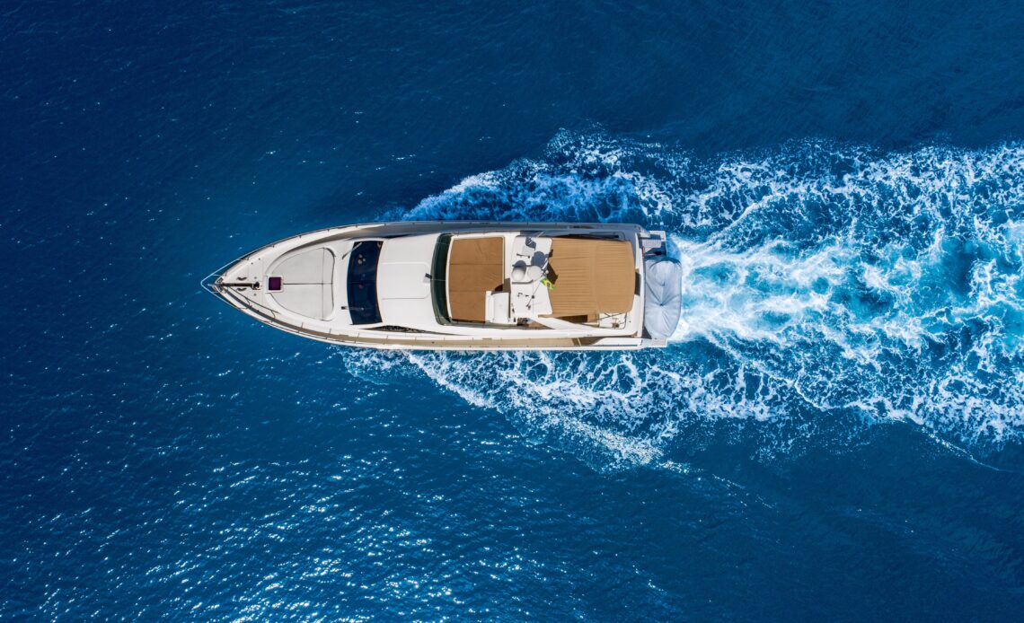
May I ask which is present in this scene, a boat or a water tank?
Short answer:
boat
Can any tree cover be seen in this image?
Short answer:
No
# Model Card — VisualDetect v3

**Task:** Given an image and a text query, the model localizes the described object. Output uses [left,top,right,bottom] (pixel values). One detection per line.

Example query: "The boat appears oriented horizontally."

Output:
[201,220,667,350]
